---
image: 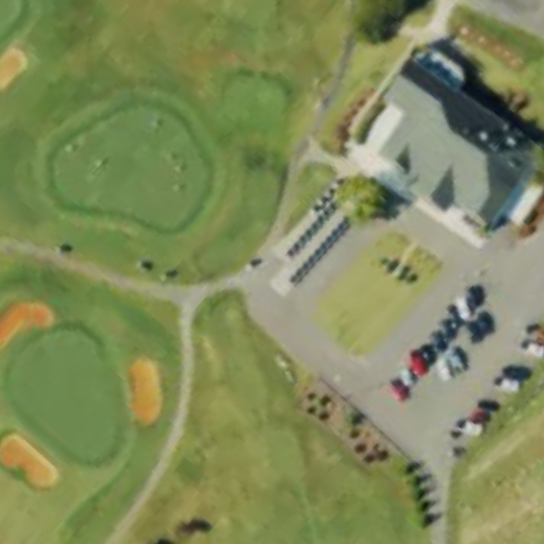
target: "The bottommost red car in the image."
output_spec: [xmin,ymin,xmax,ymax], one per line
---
[469,410,493,423]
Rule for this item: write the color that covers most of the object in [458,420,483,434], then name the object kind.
white car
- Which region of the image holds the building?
top right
